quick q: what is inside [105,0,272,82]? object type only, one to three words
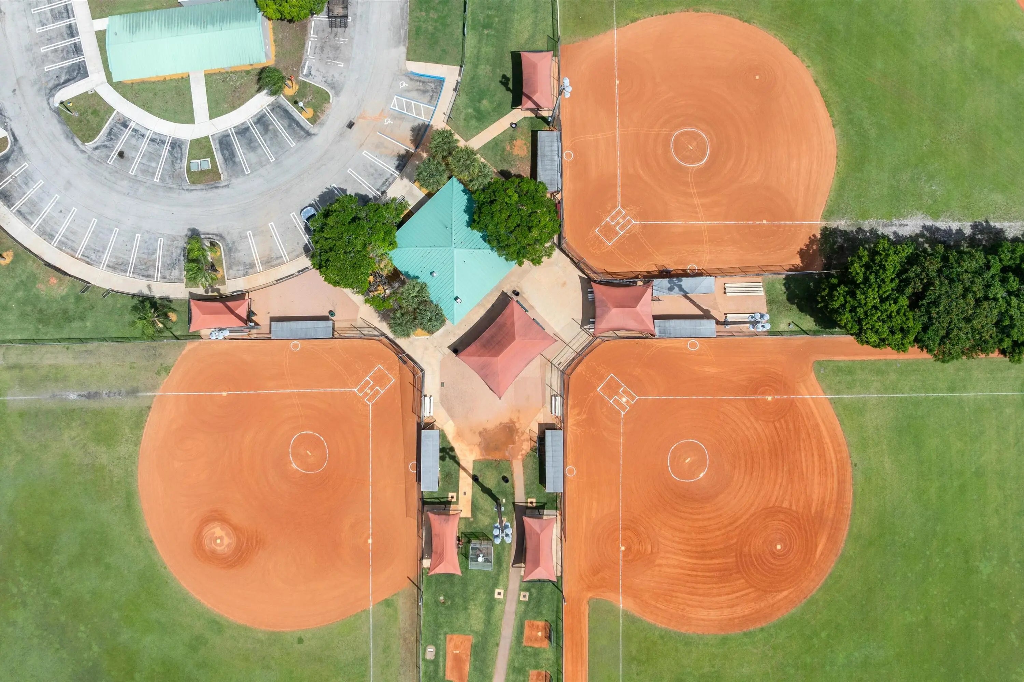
building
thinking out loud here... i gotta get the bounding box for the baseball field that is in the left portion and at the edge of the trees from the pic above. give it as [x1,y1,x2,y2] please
[0,337,423,682]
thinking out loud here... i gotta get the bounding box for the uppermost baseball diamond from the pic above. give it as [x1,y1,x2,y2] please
[560,0,1024,281]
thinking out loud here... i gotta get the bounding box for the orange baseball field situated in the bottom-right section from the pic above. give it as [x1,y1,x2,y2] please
[563,335,1024,682]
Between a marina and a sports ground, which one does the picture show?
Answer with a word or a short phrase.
sports ground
